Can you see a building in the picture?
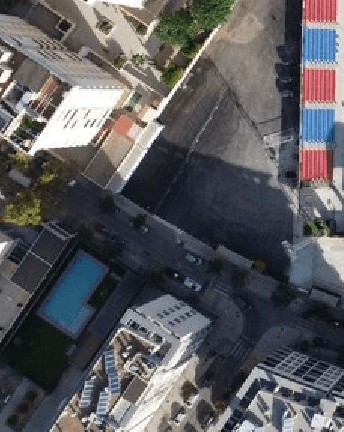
Yes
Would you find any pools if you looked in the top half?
No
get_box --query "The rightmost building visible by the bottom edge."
[217,345,344,432]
